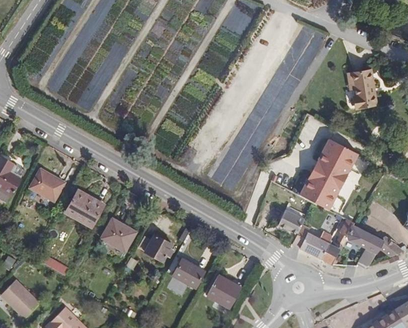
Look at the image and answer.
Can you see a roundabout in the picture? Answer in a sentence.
Yes, a roundabout appears in the view.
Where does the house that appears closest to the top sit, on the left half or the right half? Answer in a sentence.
The house that appears closest to the top sits on the right side.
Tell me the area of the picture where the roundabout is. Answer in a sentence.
The roundabout is in the bottom right part of the image.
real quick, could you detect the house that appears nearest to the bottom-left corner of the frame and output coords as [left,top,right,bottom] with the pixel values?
[0,280,38,319]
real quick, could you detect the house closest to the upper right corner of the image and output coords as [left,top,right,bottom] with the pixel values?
[350,69,376,111]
